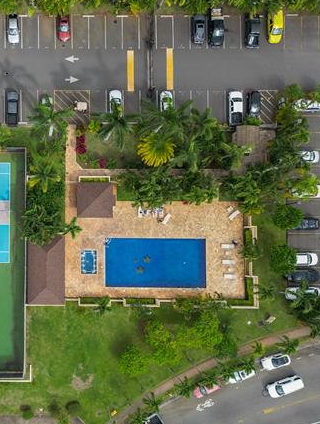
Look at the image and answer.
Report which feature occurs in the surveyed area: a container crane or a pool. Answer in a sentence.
This aerial view contains a pool.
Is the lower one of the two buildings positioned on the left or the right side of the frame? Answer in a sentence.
The lower one of the two buildings sits on the left side.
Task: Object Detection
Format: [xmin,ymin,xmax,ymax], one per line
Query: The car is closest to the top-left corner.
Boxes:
[5,13,19,44]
